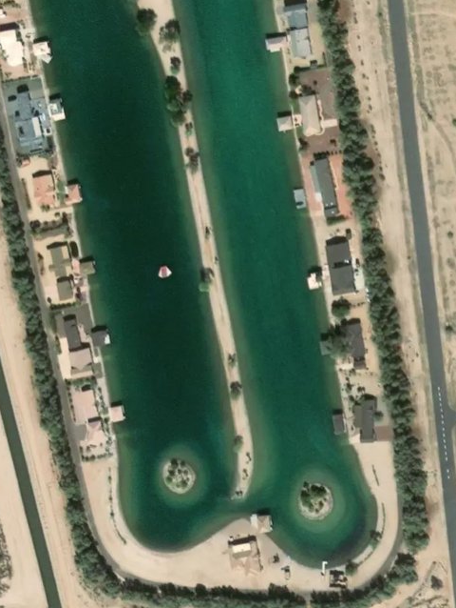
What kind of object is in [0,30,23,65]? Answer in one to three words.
house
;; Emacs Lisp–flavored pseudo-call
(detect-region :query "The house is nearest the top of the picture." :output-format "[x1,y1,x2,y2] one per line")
[285,1,309,30]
